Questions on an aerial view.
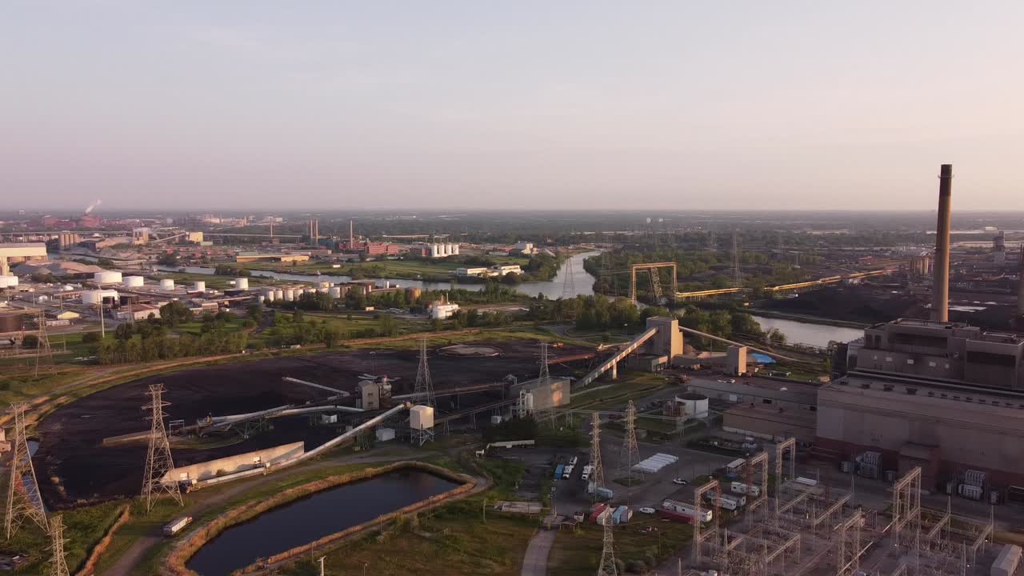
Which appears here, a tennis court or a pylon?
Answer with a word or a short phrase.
pylon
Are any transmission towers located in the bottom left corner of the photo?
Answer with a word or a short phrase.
Yes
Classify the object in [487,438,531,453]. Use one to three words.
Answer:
vehicle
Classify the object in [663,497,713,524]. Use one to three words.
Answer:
trailer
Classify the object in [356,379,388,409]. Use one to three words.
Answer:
house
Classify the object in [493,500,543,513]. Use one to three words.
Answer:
building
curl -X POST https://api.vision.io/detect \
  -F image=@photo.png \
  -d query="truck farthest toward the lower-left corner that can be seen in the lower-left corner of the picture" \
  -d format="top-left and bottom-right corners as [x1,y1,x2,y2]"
[161,517,195,538]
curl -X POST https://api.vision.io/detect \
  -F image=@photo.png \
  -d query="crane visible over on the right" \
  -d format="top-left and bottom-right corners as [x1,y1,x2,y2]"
[605,260,679,304]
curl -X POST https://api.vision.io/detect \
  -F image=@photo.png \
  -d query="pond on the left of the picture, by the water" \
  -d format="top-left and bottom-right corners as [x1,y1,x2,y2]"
[183,468,462,576]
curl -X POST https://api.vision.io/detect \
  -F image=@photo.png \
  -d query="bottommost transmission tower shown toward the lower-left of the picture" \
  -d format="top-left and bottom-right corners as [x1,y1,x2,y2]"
[36,484,72,576]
